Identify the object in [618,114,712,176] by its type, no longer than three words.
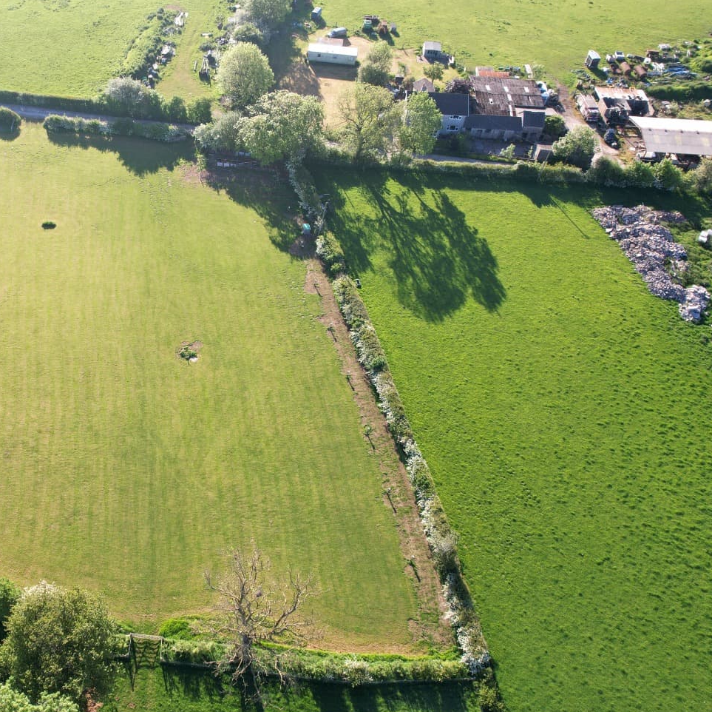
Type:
barn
